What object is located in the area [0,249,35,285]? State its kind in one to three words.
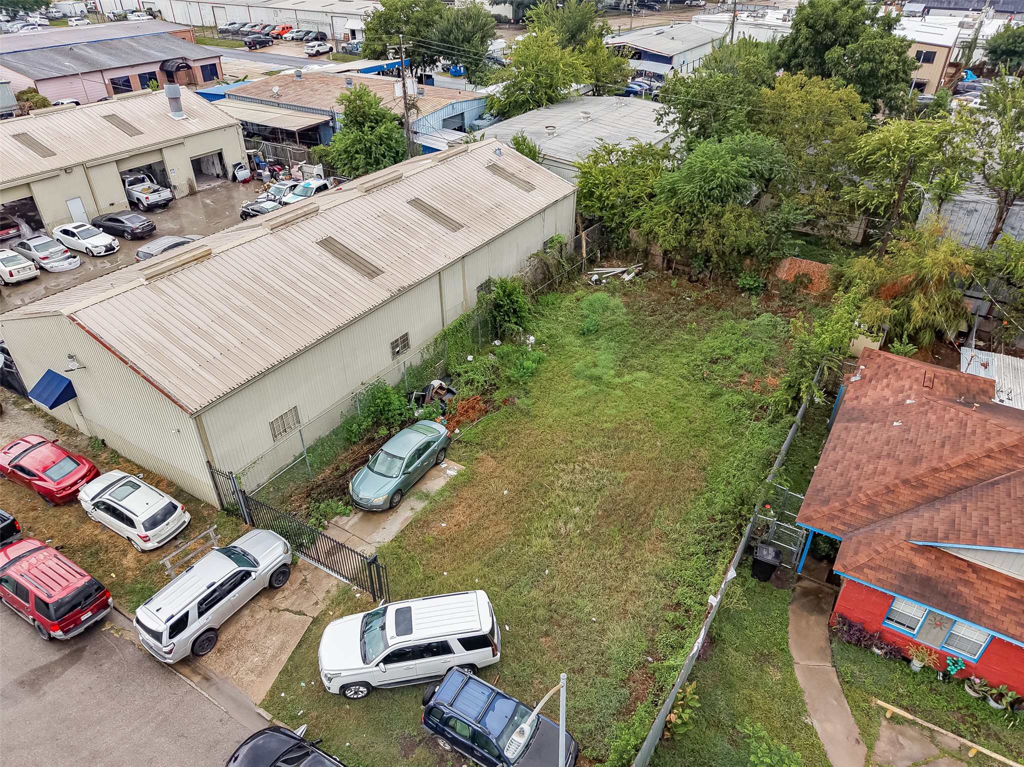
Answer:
car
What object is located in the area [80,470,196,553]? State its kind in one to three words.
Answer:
car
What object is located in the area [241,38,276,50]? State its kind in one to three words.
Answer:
vehicle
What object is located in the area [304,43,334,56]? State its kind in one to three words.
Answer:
vehicle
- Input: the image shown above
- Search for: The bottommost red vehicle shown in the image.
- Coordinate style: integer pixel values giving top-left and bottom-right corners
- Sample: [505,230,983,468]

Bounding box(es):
[0,536,110,643]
